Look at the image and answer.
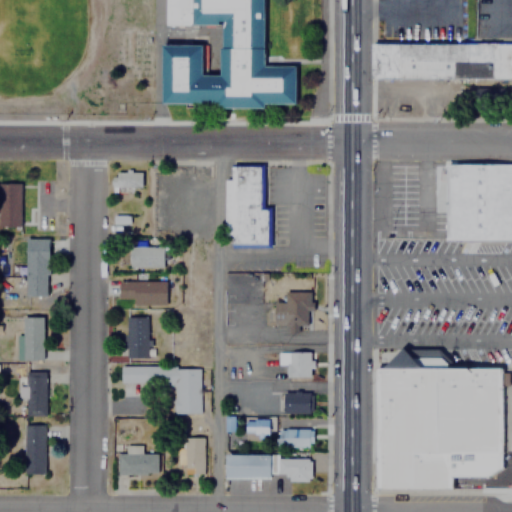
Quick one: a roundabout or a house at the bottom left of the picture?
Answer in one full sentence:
There is a house at the bottom left of the picture.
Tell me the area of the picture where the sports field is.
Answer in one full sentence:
The sports field appears toward the top left of the photo.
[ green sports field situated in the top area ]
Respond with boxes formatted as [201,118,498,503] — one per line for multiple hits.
[0,0,100,102]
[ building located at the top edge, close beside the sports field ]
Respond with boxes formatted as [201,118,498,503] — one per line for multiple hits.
[162,0,297,107]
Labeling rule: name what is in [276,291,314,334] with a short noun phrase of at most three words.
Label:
house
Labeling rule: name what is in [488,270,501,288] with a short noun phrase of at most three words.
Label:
vehicle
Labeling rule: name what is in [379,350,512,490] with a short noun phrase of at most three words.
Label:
building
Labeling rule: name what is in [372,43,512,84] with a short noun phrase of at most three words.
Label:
building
